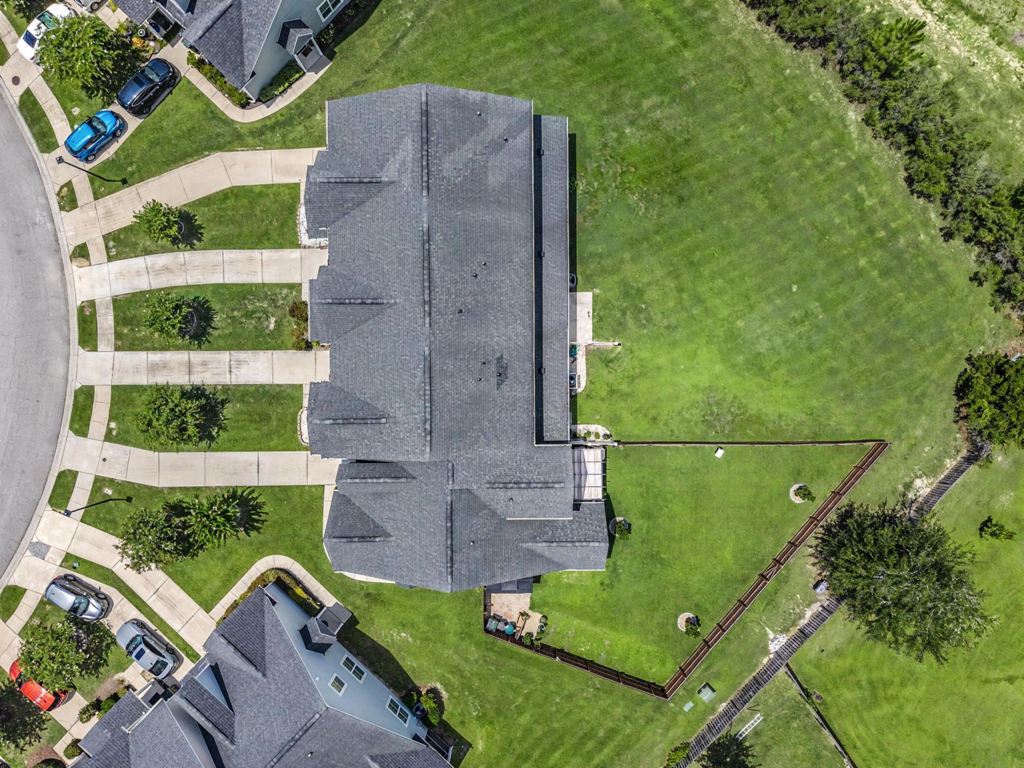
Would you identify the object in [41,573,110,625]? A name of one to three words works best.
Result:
car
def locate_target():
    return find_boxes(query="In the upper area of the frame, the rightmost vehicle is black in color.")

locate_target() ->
[115,53,178,118]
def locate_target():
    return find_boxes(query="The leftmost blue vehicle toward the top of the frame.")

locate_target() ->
[62,107,124,162]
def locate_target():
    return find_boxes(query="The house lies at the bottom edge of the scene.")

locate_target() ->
[73,582,453,768]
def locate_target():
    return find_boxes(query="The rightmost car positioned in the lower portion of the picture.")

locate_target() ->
[113,620,178,680]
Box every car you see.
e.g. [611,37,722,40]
[41,573,110,625]
[9,666,72,715]
[17,0,81,65]
[115,53,178,118]
[62,107,124,162]
[113,620,178,680]
[68,0,100,13]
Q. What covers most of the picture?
grass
